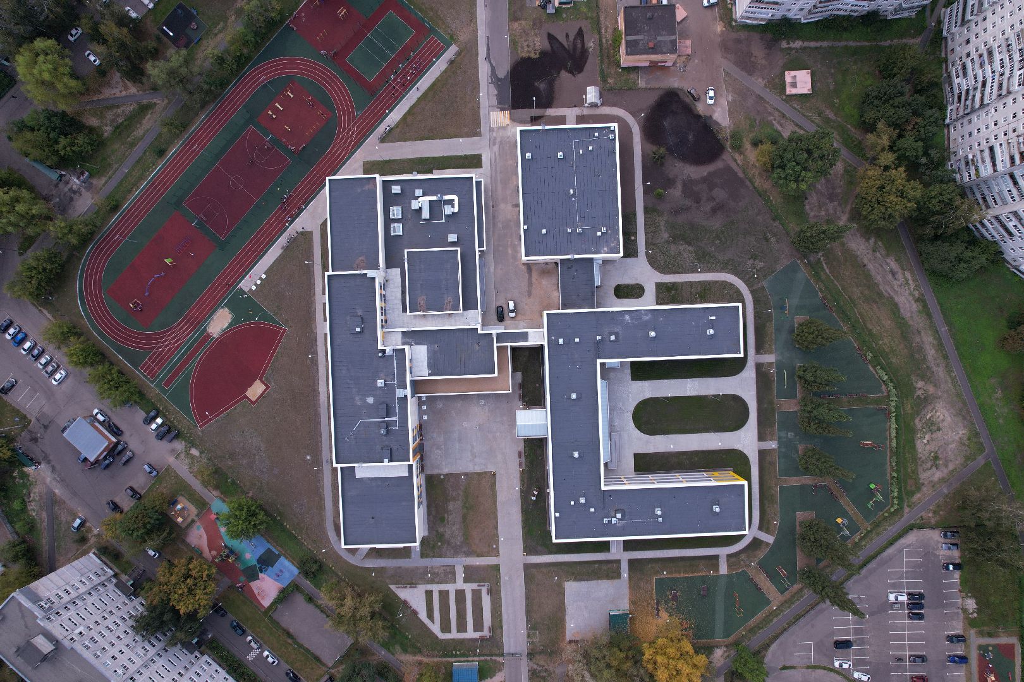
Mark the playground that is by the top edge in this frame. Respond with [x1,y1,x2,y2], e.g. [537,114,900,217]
[158,2,208,49]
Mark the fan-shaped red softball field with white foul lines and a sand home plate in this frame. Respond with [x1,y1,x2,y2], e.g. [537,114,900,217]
[190,321,286,427]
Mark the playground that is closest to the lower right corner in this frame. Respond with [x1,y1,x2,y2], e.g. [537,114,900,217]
[978,643,1016,682]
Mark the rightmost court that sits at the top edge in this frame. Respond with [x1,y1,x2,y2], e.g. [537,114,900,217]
[333,0,432,95]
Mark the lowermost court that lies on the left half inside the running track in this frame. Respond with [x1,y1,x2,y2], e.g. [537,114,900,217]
[183,125,291,239]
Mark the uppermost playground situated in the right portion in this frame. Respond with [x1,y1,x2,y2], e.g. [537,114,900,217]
[764,260,885,399]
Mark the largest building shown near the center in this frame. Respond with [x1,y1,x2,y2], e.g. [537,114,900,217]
[325,172,511,548]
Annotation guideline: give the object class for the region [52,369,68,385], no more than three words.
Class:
car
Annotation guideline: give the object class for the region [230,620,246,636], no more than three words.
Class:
car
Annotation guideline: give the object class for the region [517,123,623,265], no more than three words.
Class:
building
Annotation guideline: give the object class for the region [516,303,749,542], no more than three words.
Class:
building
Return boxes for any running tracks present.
[77,0,453,429]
